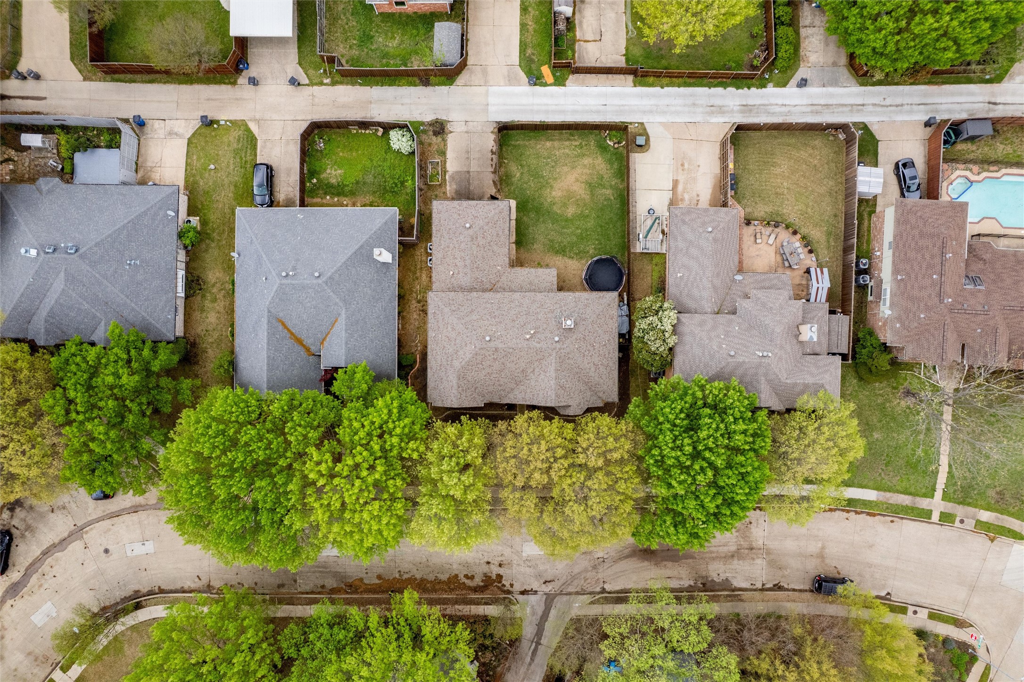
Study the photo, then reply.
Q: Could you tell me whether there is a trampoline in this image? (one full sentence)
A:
Yes, the photo shows a trampoline.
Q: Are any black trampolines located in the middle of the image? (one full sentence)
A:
Yes, there is a black trampoline in the middle of the image.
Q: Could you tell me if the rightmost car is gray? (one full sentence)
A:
Yes, the rightmost car is indeed gray.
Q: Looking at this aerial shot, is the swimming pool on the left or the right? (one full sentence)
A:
You can find the swimming pool on the right side of the picture.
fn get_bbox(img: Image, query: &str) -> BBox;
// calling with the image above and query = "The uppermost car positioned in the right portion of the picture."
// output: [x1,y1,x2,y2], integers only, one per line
[894,156,923,199]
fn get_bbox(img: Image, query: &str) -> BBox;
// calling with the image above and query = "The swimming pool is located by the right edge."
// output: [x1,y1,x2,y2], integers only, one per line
[946,173,1024,230]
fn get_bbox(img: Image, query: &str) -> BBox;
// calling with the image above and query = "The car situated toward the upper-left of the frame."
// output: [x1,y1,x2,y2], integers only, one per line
[251,162,276,208]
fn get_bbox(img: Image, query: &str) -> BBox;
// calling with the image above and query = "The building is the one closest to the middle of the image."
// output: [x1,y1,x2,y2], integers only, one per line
[427,200,619,414]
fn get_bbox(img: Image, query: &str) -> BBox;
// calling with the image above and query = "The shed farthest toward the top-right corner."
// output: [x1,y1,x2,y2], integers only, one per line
[955,119,993,141]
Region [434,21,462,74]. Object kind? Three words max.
shed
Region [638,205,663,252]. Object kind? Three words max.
trailer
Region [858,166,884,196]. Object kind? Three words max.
shed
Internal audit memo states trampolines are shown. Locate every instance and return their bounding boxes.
[583,252,625,291]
